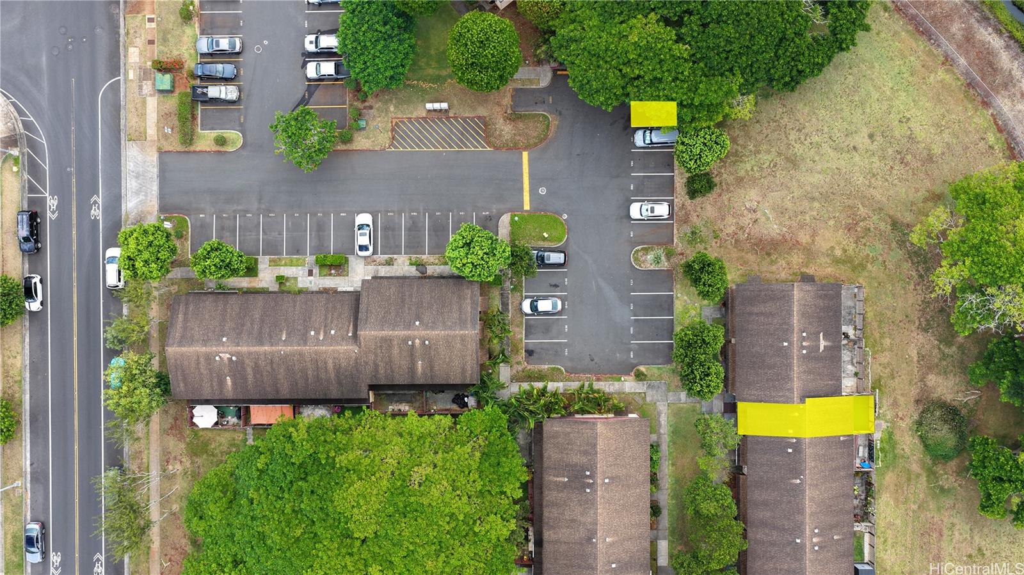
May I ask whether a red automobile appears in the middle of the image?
No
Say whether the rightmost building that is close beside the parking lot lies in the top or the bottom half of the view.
bottom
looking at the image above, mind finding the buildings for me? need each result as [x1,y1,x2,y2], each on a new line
[496,0,516,14]
[725,277,853,575]
[532,411,650,575]
[165,262,479,407]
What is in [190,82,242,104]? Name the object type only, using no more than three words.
truck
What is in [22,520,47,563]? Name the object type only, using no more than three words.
car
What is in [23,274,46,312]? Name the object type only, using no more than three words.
car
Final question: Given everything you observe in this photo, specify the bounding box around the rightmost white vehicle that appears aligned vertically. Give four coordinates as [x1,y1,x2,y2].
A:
[353,212,374,257]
